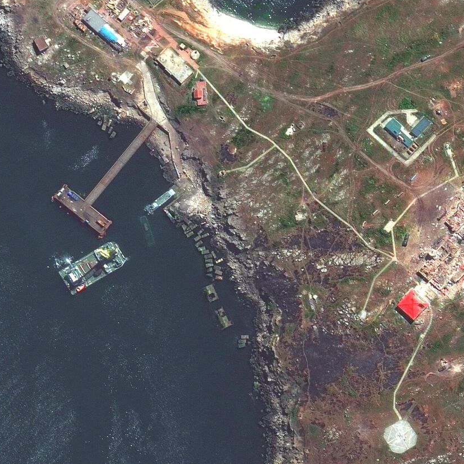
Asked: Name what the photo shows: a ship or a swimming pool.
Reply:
ship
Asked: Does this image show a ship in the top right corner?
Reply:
No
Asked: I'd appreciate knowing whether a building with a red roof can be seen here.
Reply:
Yes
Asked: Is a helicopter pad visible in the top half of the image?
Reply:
No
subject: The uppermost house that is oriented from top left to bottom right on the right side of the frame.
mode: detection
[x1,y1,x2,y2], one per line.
[384,117,413,149]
